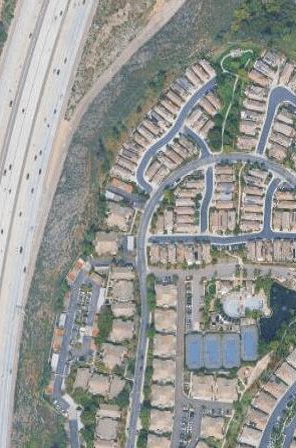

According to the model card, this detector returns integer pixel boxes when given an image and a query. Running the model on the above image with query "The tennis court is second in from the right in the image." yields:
[223,333,239,368]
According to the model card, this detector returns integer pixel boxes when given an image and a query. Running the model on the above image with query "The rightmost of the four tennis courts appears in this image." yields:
[240,326,257,361]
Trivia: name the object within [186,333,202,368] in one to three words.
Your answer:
tennis court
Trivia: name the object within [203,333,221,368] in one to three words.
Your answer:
tennis court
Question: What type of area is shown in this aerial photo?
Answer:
residential area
